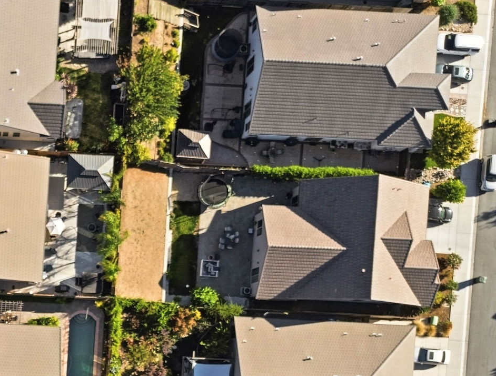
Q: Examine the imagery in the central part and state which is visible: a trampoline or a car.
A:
trampoline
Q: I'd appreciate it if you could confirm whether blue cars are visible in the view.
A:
No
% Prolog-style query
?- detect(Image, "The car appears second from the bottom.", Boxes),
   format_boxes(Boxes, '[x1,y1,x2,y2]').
[425,203,458,223]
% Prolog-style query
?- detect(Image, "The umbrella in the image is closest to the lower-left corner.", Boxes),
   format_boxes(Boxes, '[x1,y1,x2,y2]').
[45,218,64,237]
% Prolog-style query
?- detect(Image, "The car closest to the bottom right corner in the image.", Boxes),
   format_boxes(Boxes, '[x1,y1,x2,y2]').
[414,347,452,367]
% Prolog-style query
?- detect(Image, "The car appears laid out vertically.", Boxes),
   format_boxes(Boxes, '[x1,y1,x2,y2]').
[477,155,496,194]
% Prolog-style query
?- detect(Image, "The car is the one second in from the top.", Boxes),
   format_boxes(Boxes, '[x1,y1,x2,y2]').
[437,61,475,85]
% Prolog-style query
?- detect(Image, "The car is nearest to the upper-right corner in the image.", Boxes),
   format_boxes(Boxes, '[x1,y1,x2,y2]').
[438,32,484,57]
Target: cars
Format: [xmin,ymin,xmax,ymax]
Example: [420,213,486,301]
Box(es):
[437,61,475,85]
[438,32,484,57]
[477,155,496,194]
[414,347,452,367]
[425,203,458,223]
